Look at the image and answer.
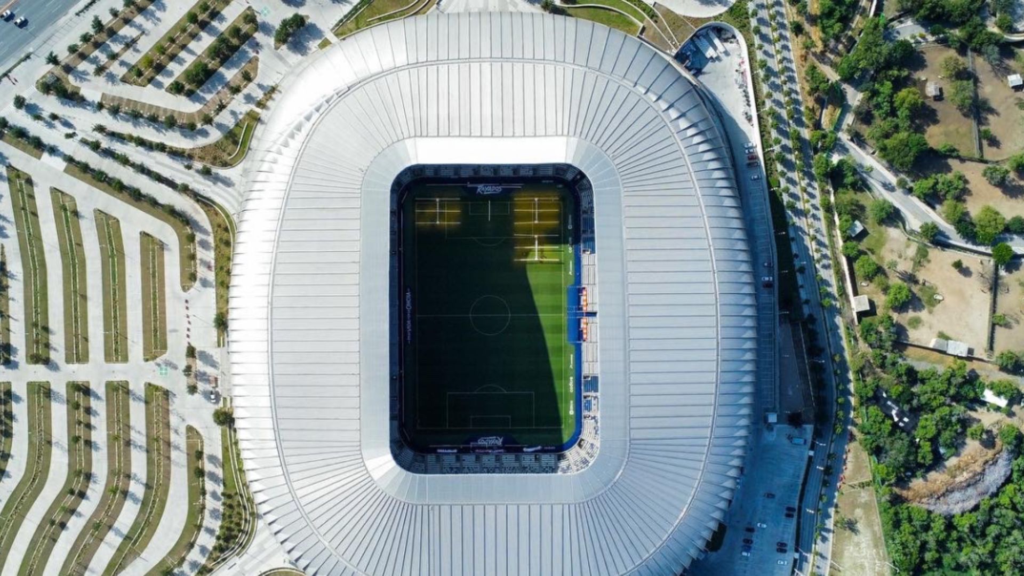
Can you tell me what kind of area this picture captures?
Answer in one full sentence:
This image shows a sports ground.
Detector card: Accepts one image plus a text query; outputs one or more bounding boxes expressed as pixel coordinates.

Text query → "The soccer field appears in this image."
[399,177,580,452]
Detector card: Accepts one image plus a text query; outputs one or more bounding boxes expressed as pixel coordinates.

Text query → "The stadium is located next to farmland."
[227,13,758,576]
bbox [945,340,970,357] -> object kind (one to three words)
shed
